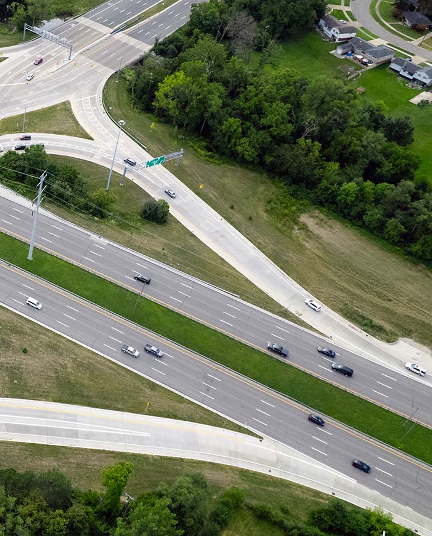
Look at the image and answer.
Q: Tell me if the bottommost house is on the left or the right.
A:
right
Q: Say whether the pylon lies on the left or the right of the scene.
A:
left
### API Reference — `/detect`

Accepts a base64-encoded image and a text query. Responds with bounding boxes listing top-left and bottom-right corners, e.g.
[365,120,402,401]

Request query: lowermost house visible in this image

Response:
[391,55,432,89]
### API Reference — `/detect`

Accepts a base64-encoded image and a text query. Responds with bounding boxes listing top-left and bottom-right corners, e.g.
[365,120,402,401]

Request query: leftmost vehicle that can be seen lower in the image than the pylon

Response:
[25,297,43,309]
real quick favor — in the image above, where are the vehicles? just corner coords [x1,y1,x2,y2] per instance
[266,343,288,357]
[19,135,31,141]
[25,74,34,80]
[164,189,176,198]
[120,343,141,358]
[305,300,321,311]
[14,145,27,151]
[405,363,425,374]
[350,458,371,473]
[331,362,354,378]
[143,343,164,358]
[317,347,336,359]
[306,412,326,426]
[34,58,43,64]
[133,272,152,285]
[25,297,43,309]
[124,158,136,165]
